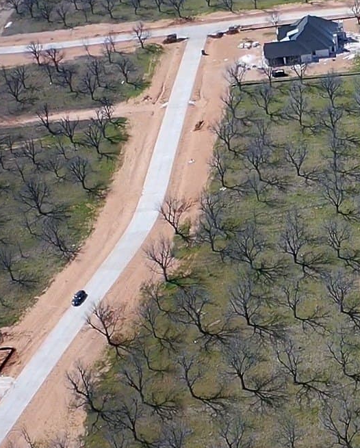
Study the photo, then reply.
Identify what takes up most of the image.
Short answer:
grass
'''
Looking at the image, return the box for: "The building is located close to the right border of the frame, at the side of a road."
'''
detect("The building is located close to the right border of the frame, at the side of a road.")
[267,12,349,66]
